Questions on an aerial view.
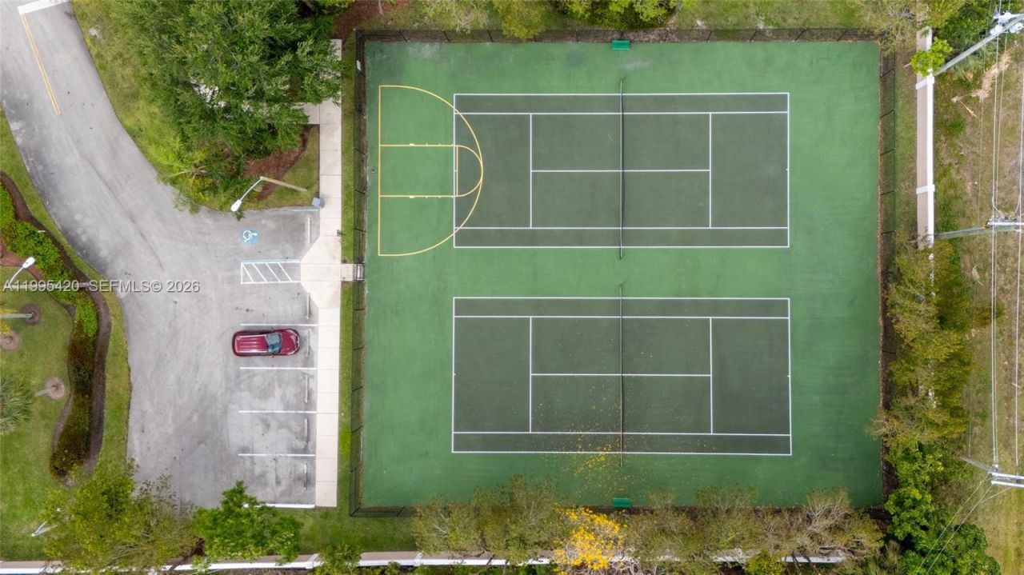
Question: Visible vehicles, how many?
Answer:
1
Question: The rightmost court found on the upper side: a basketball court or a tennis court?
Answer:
tennis court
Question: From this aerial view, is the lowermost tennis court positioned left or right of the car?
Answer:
to the right of it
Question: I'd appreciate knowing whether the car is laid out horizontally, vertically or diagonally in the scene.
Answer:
horizontally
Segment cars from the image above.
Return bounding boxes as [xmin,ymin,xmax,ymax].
[231,327,301,359]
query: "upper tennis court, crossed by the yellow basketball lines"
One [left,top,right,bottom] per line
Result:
[453,93,790,247]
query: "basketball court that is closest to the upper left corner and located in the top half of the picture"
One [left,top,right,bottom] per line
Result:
[378,86,483,255]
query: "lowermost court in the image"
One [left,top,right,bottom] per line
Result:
[452,297,791,455]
